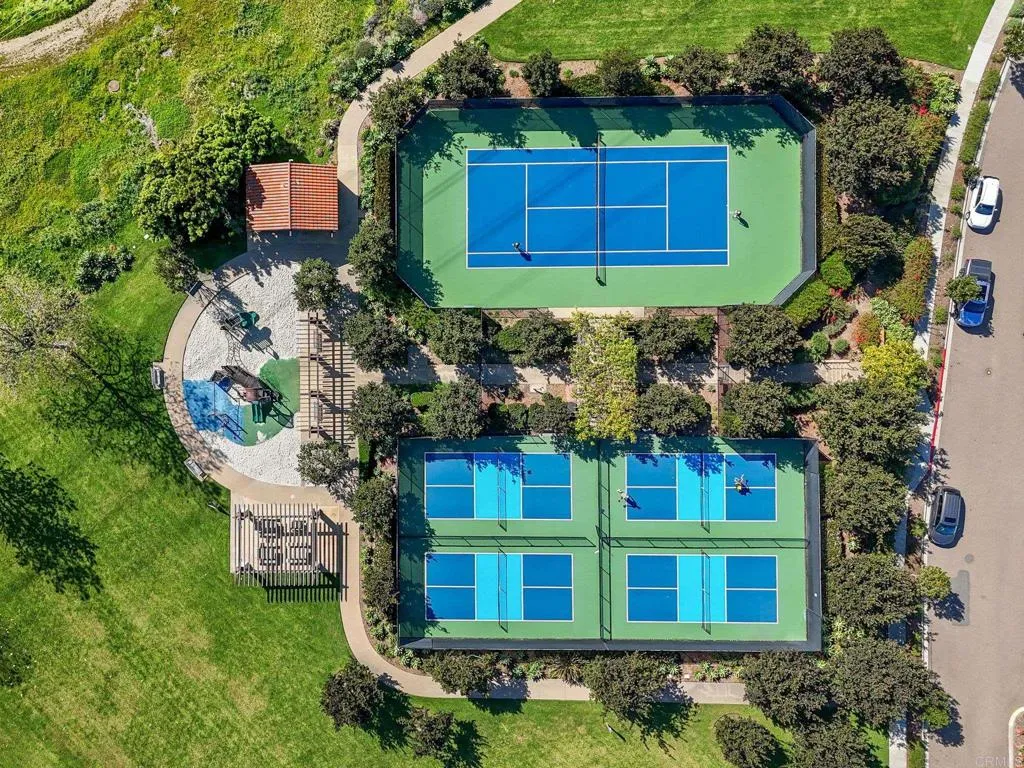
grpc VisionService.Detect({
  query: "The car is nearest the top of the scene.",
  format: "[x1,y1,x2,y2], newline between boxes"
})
[968,174,1002,227]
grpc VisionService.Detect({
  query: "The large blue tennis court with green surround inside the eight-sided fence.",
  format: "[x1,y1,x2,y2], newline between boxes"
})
[398,104,802,307]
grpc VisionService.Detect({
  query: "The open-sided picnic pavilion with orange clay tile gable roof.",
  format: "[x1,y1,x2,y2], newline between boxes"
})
[246,161,338,234]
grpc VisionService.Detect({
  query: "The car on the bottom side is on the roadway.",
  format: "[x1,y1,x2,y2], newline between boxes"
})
[930,487,964,545]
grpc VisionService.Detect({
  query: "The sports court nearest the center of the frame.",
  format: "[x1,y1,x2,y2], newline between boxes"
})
[425,452,572,520]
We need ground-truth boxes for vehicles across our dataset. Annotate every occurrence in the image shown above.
[930,487,964,545]
[954,261,991,327]
[968,174,1002,227]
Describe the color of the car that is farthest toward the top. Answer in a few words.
white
